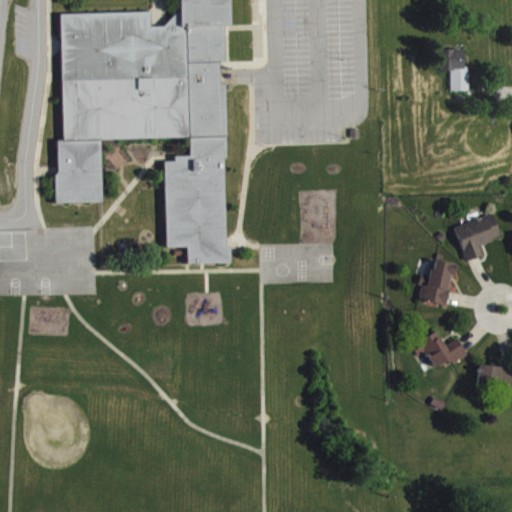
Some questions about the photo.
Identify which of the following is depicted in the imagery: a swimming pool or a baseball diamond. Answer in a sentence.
There is a baseball diamond in the scene.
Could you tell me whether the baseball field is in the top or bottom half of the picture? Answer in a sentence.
It is in the bottom half that the baseball field appears.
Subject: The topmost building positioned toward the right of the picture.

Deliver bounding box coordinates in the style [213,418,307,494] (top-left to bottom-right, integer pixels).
[448,49,470,92]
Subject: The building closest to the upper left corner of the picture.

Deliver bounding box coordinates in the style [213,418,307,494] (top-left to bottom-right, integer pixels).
[54,0,232,263]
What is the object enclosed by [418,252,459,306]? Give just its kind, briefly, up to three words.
house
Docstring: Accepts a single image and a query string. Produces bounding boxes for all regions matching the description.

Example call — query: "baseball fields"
[22,391,90,468]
